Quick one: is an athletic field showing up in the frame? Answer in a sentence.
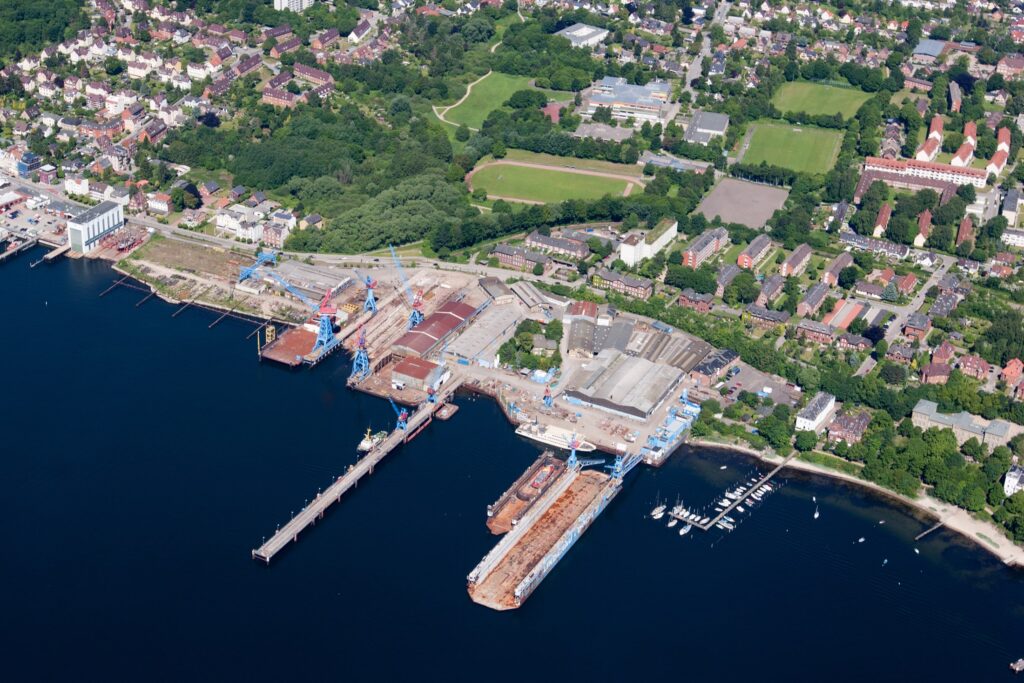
Yes, an athletic field can be made out from above.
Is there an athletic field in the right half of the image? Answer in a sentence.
Yes, an athletic field can be seen in the right half of the image.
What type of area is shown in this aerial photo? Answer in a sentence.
The picture captures a port.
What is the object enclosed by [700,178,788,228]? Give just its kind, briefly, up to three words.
sports field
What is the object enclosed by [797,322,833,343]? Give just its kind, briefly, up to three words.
house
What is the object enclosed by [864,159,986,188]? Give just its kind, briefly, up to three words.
building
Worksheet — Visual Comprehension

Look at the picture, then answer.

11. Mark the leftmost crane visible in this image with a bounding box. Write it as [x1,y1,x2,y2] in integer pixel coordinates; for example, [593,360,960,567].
[266,270,334,356]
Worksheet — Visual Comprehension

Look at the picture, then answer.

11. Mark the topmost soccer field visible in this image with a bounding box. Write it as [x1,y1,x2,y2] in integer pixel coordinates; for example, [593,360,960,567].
[771,80,869,119]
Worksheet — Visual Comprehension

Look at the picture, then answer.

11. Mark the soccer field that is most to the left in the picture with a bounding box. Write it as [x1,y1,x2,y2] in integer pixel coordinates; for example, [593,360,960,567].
[472,164,630,200]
